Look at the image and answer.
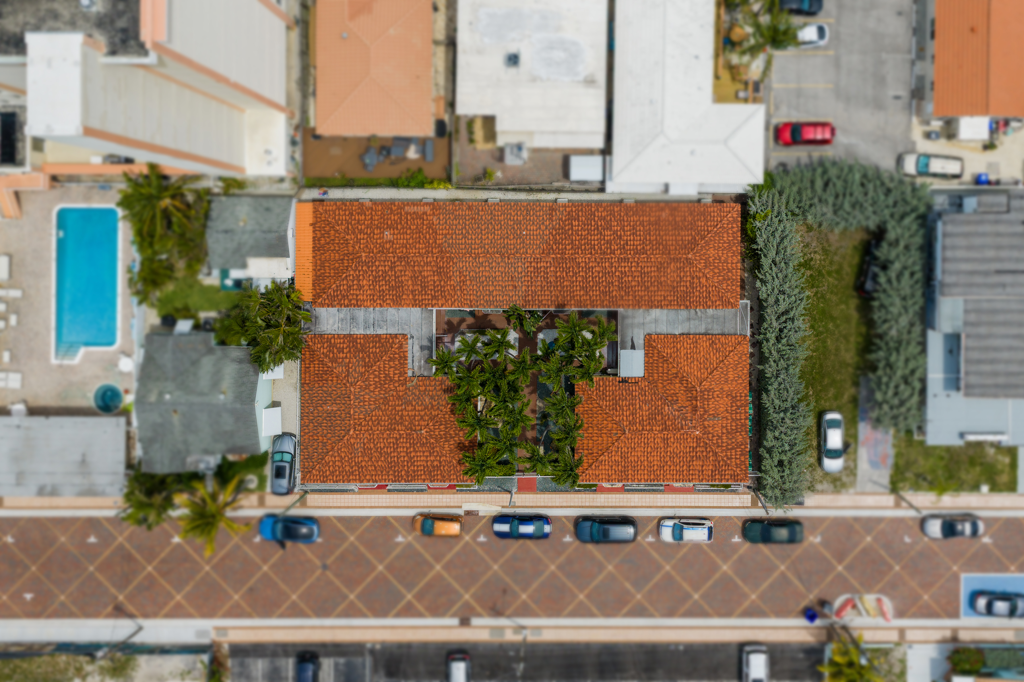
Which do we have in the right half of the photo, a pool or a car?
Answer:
car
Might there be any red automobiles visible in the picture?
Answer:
Yes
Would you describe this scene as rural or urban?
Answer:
urban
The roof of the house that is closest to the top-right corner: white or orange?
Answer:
orange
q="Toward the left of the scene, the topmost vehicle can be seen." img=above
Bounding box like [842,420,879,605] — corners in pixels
[269,431,299,494]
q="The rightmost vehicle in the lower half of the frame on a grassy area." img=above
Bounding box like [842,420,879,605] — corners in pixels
[816,410,846,471]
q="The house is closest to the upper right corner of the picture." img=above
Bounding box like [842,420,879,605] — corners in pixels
[917,0,1024,117]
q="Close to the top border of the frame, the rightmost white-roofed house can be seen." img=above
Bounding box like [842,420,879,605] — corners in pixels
[609,0,765,192]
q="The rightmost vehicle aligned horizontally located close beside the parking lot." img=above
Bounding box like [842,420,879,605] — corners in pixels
[894,150,965,180]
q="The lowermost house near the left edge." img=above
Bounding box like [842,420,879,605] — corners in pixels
[0,408,137,495]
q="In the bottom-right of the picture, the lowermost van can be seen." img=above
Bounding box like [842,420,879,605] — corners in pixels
[740,640,769,682]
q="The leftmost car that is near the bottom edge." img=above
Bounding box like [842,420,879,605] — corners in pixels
[295,647,323,682]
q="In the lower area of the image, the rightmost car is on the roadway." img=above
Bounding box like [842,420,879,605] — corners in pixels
[966,587,1024,620]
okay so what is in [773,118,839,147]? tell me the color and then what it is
red car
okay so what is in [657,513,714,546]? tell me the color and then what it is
white car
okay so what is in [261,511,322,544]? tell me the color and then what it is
blue car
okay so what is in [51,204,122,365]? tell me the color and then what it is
blue swimming pool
